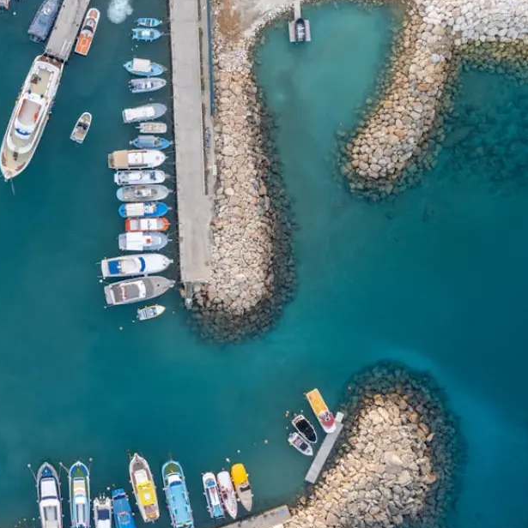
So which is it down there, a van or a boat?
boat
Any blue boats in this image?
Yes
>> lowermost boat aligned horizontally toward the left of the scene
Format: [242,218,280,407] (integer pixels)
[134,305,166,319]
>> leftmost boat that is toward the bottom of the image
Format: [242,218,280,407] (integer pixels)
[29,463,63,528]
